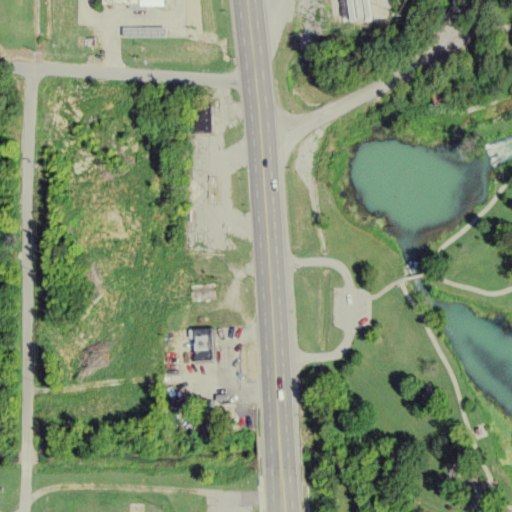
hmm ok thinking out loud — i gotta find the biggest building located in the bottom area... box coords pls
[189,328,212,362]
